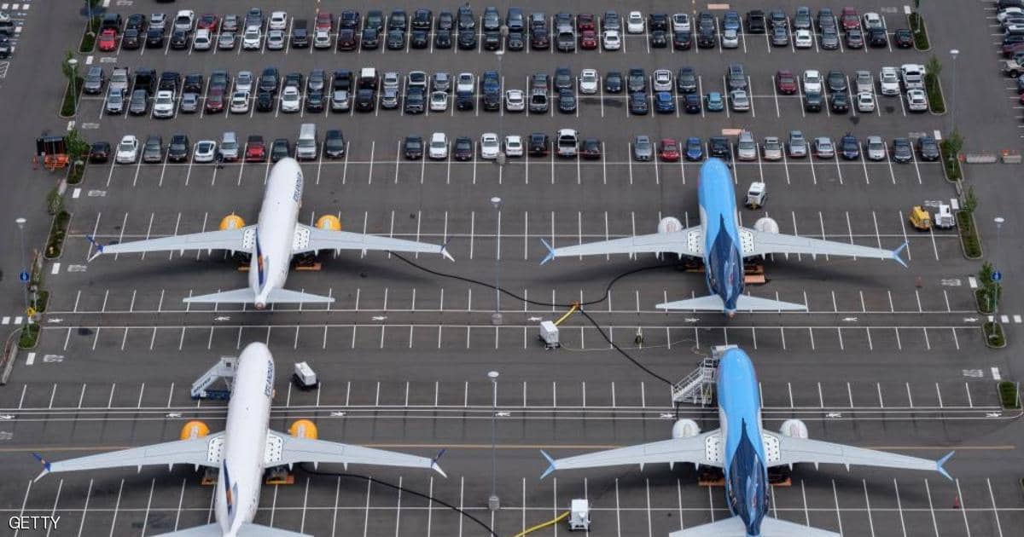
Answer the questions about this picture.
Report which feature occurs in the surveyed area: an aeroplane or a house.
aeroplane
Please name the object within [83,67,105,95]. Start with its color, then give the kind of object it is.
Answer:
gray vehicle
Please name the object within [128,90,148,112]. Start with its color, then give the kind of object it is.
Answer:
gray car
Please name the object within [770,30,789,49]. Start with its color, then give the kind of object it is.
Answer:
gray car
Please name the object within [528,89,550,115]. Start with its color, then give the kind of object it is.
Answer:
gray truck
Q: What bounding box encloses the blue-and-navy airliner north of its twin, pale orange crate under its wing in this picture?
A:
[540,157,909,318]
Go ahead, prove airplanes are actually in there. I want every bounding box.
[540,157,909,318]
[541,348,956,537]
[86,157,454,310]
[31,341,446,537]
